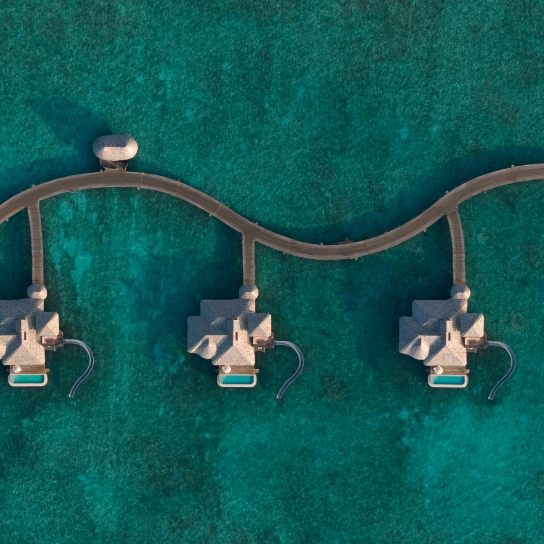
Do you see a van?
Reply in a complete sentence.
No, this view has no van in it.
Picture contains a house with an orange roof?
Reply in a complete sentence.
No, the frame has no house with an orange roof in it.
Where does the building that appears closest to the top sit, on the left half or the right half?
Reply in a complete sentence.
The building that appears closest to the top sits on the left side.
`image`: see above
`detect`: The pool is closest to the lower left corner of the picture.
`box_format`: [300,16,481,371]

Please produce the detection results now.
[7,373,48,387]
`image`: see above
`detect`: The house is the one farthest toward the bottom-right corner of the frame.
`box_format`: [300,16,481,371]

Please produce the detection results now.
[400,285,493,376]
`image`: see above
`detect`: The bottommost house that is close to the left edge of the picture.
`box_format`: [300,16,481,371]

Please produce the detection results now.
[0,284,72,375]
